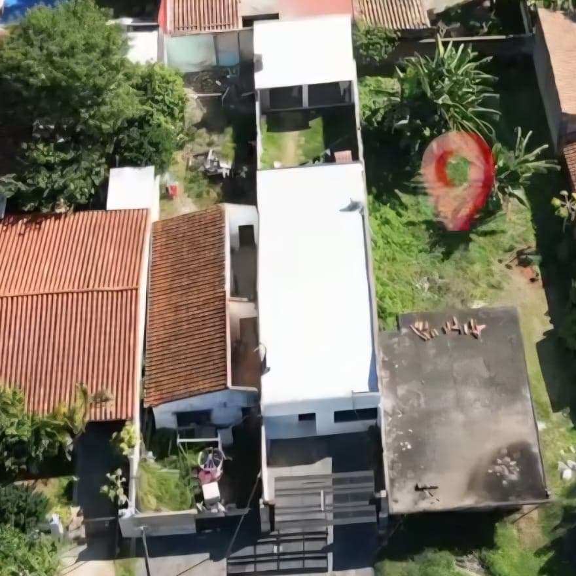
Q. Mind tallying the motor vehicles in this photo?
none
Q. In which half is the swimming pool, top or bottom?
top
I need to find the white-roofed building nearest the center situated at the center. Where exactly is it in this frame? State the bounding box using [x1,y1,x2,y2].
[254,161,388,446]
